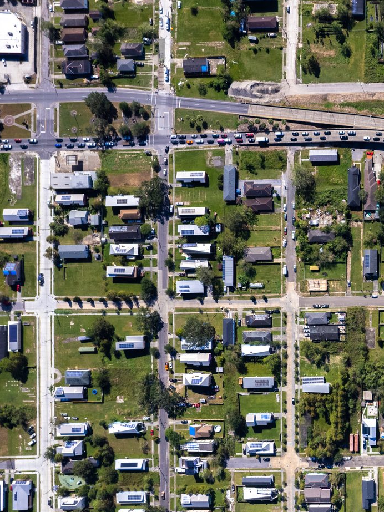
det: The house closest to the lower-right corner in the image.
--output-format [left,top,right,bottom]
[362,476,377,512]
